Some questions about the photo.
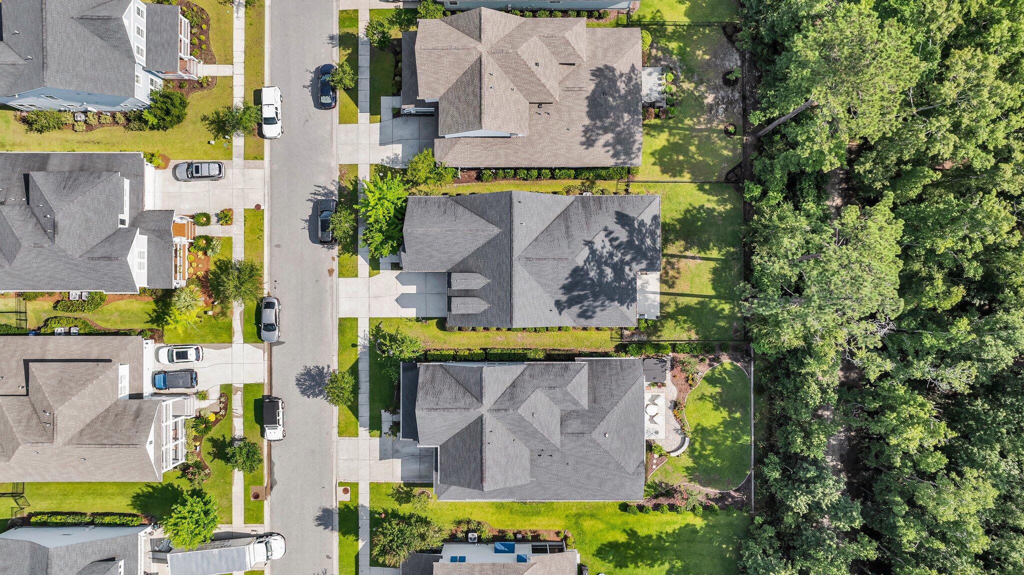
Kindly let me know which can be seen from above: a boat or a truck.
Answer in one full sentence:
Looking from above, you can make out a truck.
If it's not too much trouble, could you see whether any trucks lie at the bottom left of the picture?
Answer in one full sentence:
Yes, a truck appears at the bottom left of the picture.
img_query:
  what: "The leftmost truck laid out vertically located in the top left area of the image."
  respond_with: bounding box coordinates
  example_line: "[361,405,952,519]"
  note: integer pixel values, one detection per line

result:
[261,84,283,140]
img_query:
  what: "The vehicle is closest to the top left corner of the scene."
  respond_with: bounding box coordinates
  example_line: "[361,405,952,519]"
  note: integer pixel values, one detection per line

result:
[175,158,225,180]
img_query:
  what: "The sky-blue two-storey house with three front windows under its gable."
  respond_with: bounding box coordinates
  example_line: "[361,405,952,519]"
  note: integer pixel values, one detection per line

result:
[0,0,195,111]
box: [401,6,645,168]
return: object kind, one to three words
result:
house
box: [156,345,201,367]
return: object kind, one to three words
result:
car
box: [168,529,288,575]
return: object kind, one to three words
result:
truck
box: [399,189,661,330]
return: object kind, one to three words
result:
house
